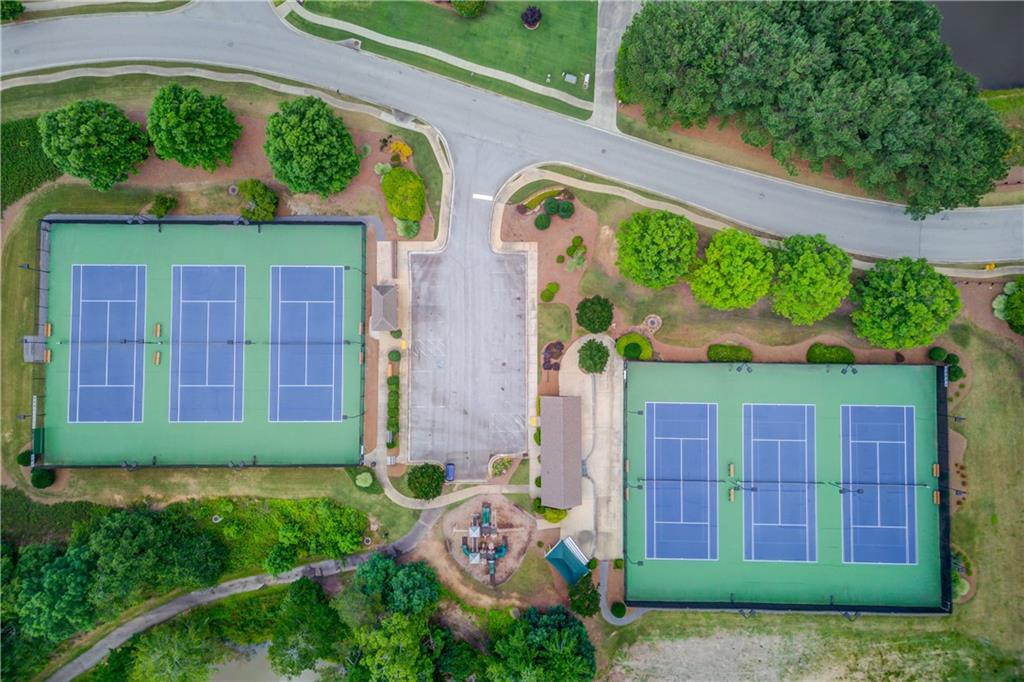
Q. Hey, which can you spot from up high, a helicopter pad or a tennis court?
tennis court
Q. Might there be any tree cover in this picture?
Yes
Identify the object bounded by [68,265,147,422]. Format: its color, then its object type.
blue tennis court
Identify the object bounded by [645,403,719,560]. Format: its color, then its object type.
blue tennis court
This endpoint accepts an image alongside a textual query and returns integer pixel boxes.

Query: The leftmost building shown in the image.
[371,285,399,330]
